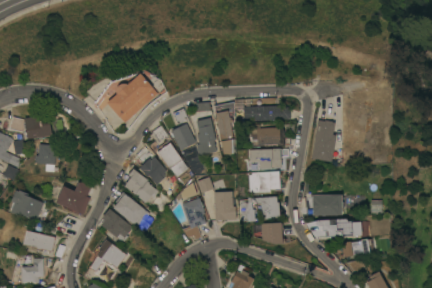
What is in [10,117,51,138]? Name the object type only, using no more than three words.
house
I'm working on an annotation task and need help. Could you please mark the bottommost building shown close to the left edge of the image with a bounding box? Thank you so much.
[20,255,46,284]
